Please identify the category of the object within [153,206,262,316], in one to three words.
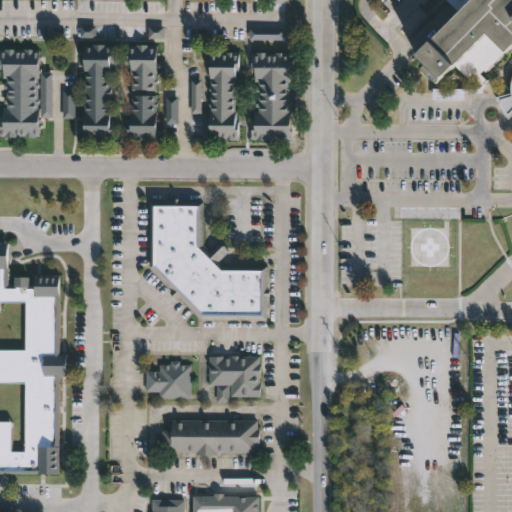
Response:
building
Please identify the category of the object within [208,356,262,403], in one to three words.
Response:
house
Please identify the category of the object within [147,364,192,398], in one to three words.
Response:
house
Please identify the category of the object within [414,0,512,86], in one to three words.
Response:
building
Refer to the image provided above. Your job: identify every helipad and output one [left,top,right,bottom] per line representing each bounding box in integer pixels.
[410,228,450,267]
